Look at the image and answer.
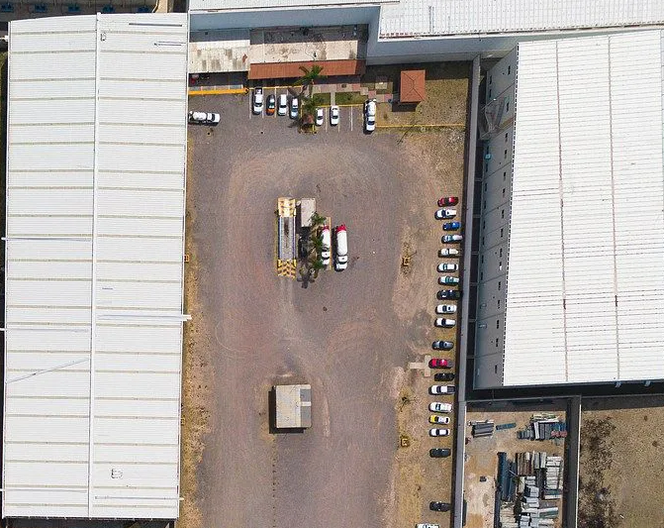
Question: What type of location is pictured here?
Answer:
industrial area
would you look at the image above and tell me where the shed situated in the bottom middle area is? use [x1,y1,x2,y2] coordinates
[272,384,311,428]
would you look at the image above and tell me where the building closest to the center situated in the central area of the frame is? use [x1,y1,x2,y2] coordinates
[297,200,315,230]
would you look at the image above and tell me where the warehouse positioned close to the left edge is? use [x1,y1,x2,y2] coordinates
[0,13,192,521]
